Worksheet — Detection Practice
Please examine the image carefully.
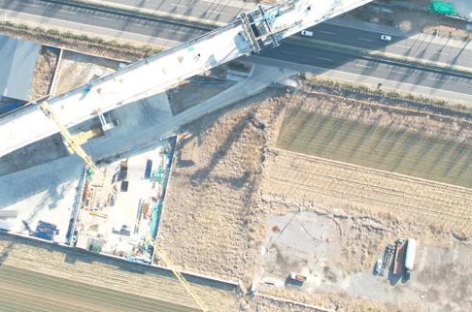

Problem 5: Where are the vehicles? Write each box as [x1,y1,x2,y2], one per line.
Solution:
[300,30,313,37]
[379,35,391,41]
[383,241,397,276]
[403,238,420,276]
[290,273,307,284]
[393,240,407,275]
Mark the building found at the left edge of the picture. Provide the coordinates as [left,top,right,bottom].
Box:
[0,36,41,102]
